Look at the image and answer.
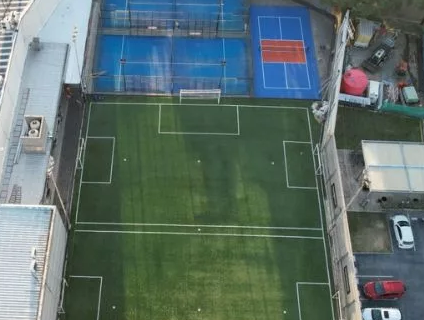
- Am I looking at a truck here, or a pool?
truck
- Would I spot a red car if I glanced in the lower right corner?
Yes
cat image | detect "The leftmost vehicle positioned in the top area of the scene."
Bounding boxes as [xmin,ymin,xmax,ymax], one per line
[362,35,400,73]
